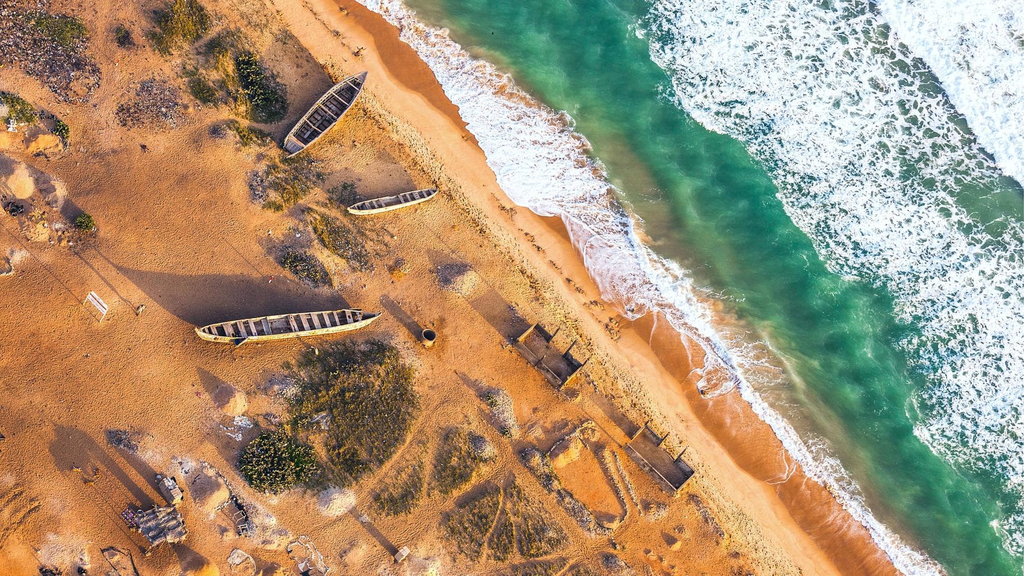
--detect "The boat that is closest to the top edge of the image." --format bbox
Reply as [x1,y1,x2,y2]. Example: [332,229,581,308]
[280,70,369,162]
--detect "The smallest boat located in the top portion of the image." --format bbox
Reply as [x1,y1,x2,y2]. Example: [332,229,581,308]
[346,188,440,213]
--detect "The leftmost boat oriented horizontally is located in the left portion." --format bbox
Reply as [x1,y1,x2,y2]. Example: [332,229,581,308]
[193,307,383,348]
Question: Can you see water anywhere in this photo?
Yes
